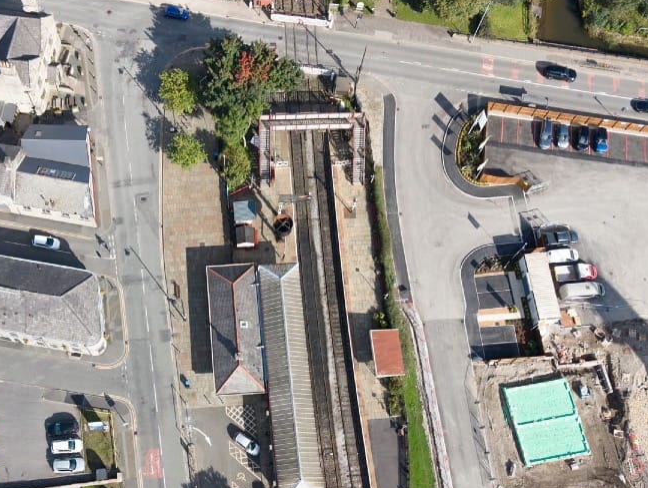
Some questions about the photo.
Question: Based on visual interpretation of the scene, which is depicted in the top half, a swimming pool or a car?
car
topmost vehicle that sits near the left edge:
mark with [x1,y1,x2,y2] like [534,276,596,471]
[31,234,62,251]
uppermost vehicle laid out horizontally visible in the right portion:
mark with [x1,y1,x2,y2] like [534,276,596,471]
[542,65,575,83]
